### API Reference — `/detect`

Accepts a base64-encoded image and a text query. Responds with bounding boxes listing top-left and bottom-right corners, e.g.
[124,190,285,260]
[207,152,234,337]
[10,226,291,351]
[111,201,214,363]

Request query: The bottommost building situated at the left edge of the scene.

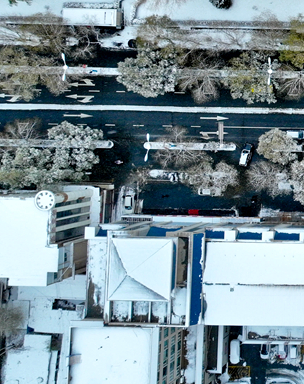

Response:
[6,343,65,384]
